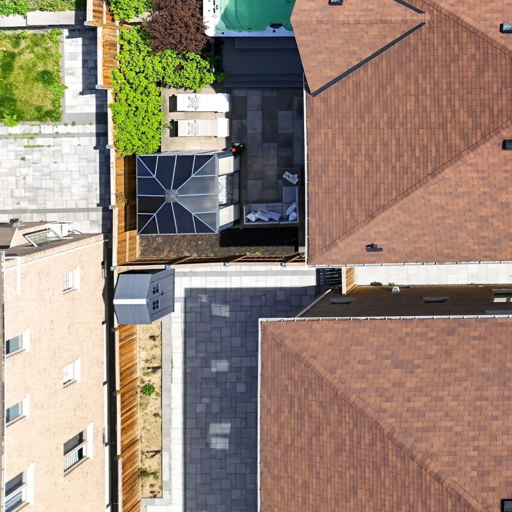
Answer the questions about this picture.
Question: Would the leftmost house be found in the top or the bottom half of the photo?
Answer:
bottom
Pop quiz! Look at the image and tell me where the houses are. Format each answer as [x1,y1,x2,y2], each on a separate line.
[291,0,512,267]
[257,279,512,512]
[0,223,117,512]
